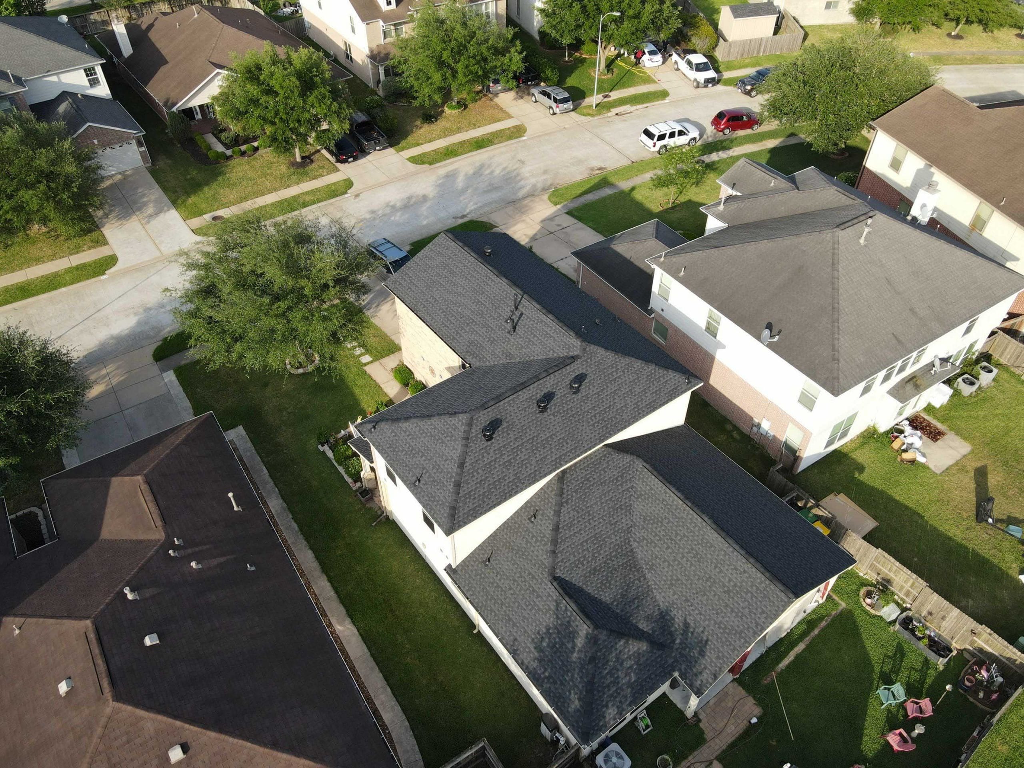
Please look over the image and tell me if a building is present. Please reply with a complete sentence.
Yes, the image includes a building.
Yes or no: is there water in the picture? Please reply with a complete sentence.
No, there is no water in the image.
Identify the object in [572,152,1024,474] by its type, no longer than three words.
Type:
house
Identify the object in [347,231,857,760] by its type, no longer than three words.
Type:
house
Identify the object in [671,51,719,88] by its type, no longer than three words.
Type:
truck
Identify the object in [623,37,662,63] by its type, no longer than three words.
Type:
car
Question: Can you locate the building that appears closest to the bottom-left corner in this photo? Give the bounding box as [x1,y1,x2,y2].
[0,411,398,768]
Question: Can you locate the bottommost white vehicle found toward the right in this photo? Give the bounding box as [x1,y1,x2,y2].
[638,119,704,156]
